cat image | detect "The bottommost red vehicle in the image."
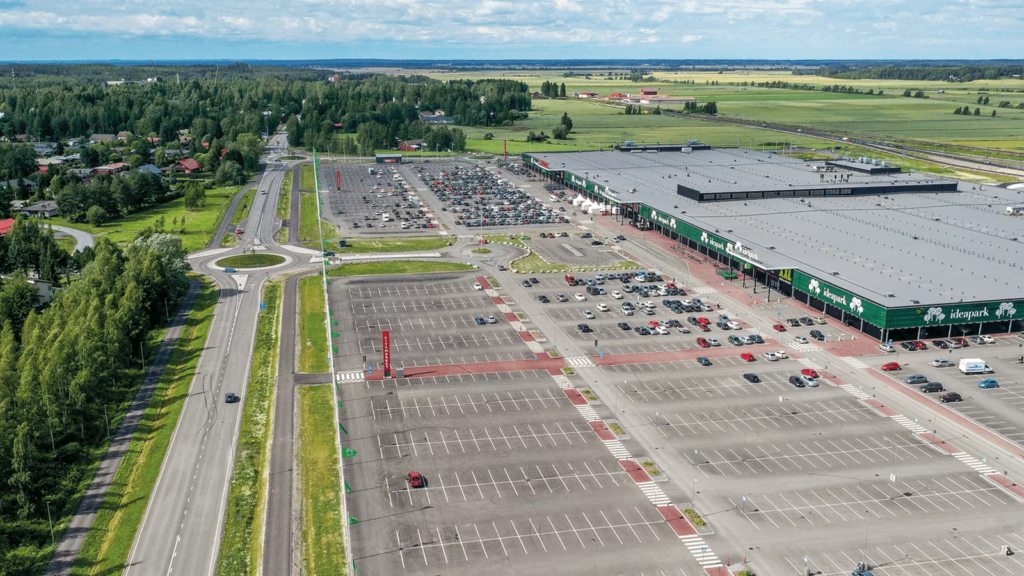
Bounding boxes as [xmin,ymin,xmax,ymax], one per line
[405,473,425,490]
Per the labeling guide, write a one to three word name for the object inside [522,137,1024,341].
building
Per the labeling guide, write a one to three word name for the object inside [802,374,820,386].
vehicle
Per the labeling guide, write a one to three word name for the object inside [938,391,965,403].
vehicle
